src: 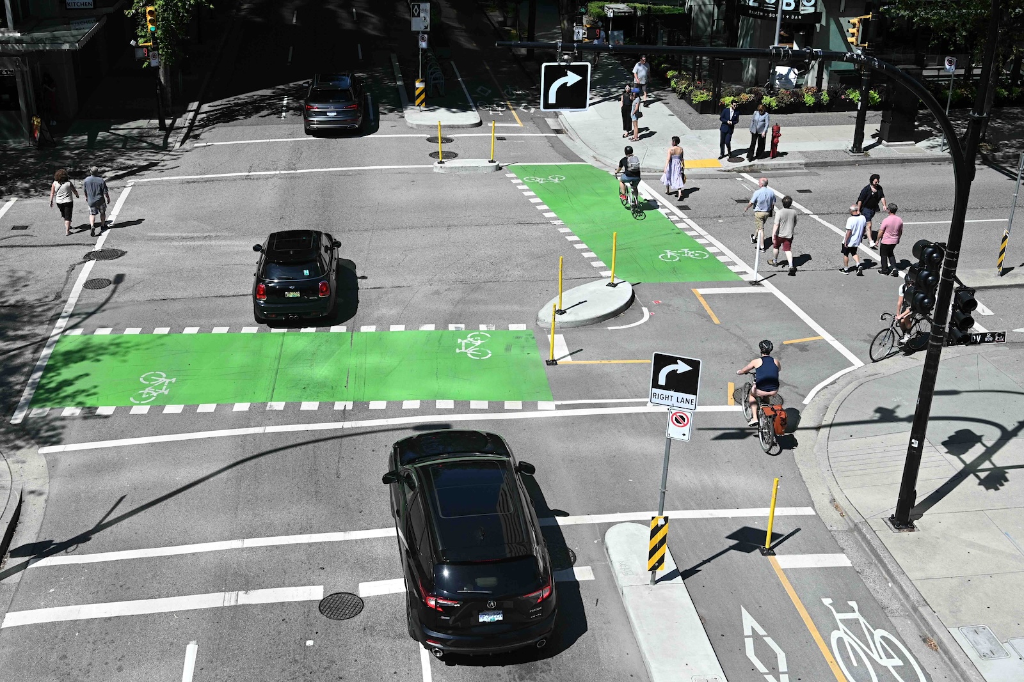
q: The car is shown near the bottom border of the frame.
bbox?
[381,431,556,662]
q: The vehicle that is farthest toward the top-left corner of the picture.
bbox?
[300,70,368,134]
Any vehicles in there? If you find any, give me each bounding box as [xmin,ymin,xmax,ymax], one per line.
[250,229,344,322]
[381,431,556,662]
[300,70,368,134]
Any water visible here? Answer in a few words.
No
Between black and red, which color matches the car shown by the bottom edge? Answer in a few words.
black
